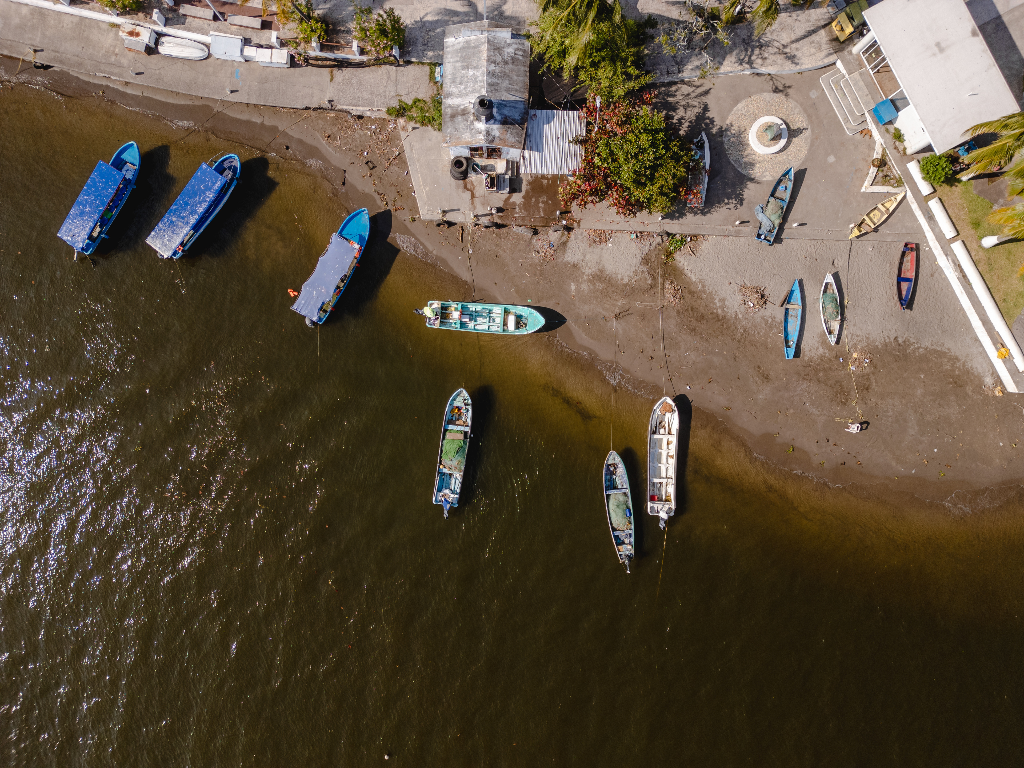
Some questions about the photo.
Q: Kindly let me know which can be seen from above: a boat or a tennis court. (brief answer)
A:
boat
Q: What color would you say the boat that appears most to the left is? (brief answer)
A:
blue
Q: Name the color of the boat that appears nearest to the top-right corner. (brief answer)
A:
yellow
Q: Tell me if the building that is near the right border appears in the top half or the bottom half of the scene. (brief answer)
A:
top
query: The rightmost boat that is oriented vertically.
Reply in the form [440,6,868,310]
[895,242,916,311]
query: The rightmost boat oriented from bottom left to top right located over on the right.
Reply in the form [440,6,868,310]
[849,191,906,239]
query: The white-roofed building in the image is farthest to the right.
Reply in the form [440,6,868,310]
[851,0,1021,157]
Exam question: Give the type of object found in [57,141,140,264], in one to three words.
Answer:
boat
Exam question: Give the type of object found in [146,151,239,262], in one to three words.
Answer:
boat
